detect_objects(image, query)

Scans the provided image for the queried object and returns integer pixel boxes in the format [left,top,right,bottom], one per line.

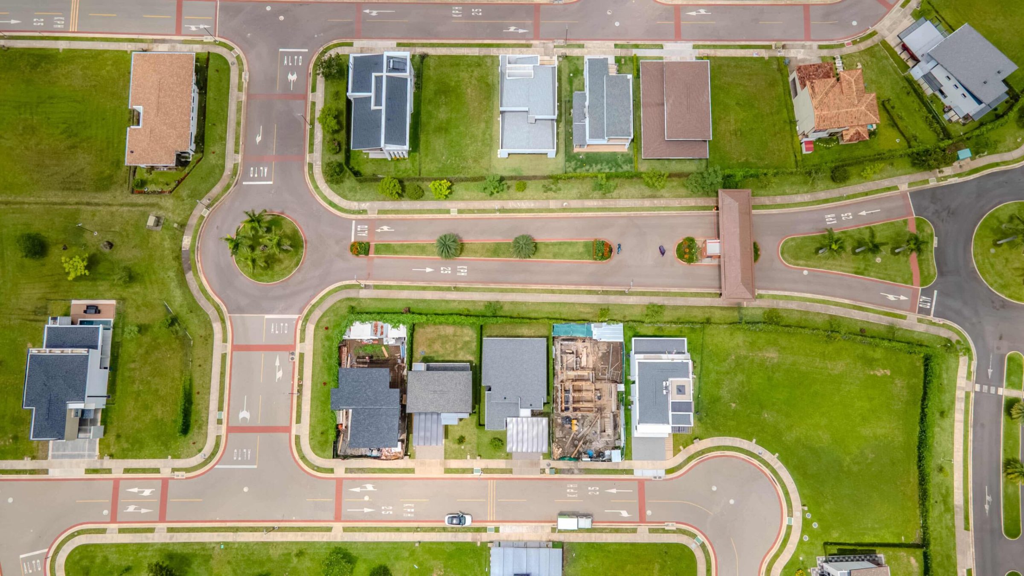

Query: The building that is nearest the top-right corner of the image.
[890,17,1019,125]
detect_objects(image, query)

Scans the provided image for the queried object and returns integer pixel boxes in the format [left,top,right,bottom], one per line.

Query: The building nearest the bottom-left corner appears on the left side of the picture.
[23,300,118,440]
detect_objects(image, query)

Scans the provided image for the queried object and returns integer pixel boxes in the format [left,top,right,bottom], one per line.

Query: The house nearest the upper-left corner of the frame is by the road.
[125,52,200,192]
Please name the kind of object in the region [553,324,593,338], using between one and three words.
shed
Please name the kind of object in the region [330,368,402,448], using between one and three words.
house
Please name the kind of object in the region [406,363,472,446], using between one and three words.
house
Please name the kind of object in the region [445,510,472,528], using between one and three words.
car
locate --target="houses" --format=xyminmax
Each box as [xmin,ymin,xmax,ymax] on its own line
[482,337,548,452]
[406,363,472,446]
[791,62,880,145]
[627,338,693,457]
[490,538,562,576]
[811,554,890,576]
[573,57,633,152]
[347,52,413,161]
[890,17,1019,125]
[23,300,118,440]
[640,61,711,161]
[498,55,557,160]
[330,368,402,448]
[125,52,200,192]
